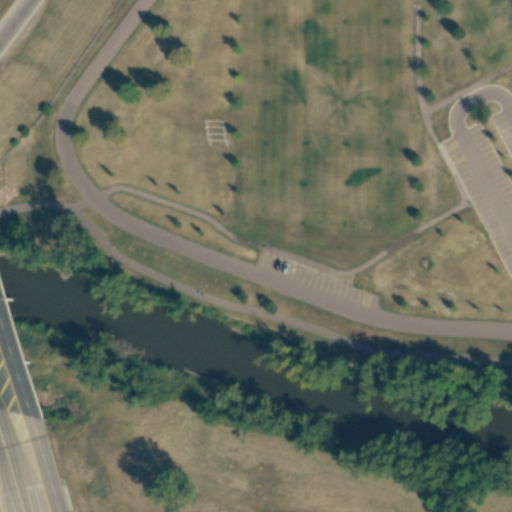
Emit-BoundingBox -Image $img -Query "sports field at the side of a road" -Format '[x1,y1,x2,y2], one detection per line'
[236,0,412,228]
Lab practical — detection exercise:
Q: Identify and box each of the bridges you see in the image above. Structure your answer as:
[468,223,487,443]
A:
[0,279,44,420]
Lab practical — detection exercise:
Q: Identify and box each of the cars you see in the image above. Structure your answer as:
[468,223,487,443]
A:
[274,259,280,270]
[284,262,289,273]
